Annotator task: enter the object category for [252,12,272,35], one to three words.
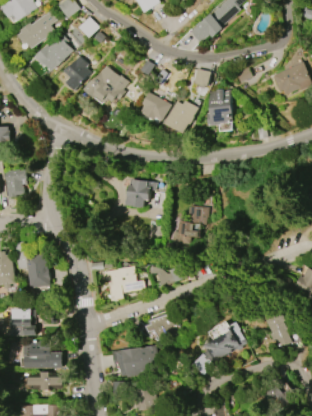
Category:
swimming pool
